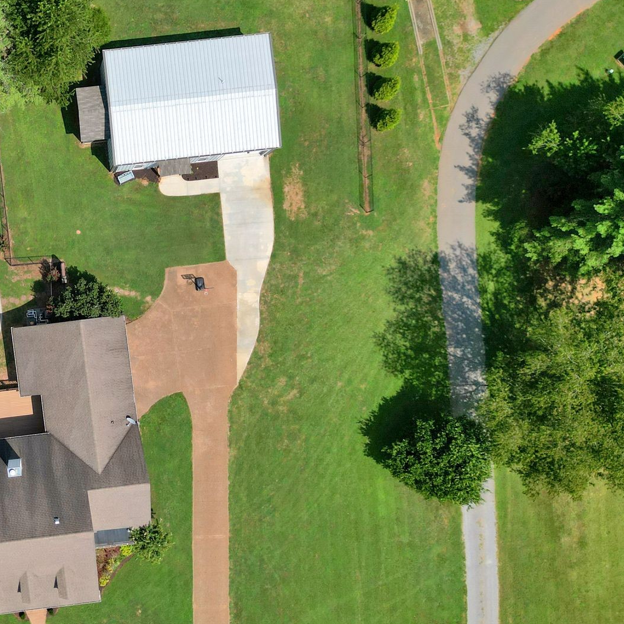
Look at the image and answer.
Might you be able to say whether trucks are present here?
No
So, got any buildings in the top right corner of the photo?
No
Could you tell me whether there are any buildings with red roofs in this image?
No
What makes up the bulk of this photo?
grass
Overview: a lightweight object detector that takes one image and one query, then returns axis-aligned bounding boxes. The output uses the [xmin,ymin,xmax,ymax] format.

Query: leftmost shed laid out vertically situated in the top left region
[77,86,106,149]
